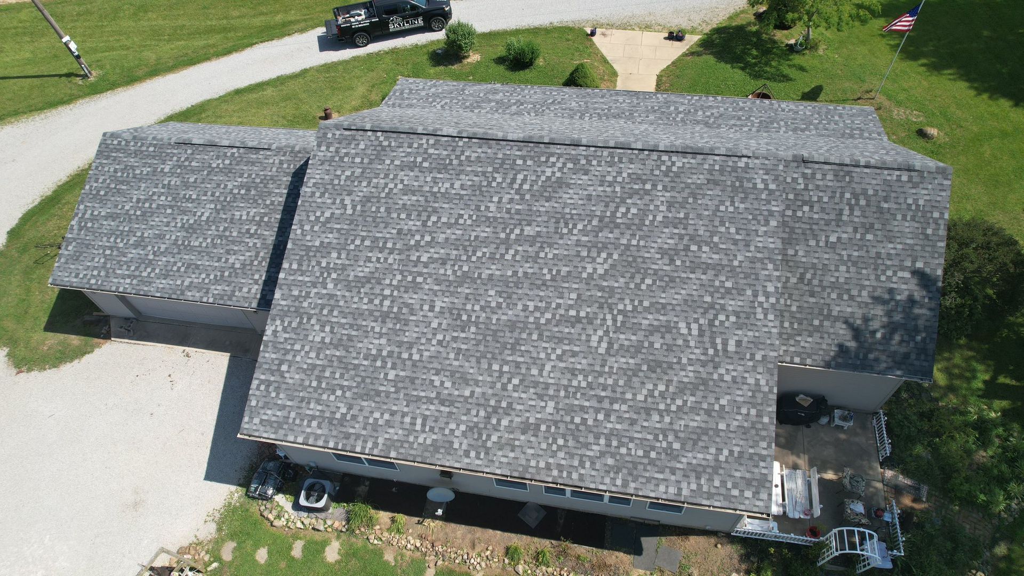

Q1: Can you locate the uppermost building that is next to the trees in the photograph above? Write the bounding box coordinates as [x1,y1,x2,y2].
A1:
[48,77,953,534]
